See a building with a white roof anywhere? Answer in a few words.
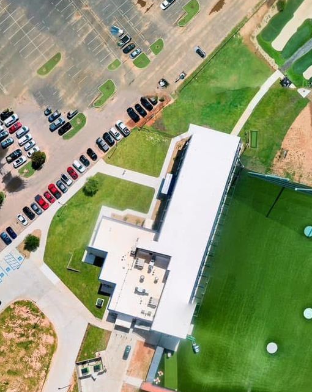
Yes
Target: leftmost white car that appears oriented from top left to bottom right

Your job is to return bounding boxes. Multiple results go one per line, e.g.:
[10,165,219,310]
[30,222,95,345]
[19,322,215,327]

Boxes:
[16,212,29,228]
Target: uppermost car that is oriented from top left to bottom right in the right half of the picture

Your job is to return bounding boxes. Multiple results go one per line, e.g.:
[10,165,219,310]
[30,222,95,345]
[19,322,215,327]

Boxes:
[193,44,206,60]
